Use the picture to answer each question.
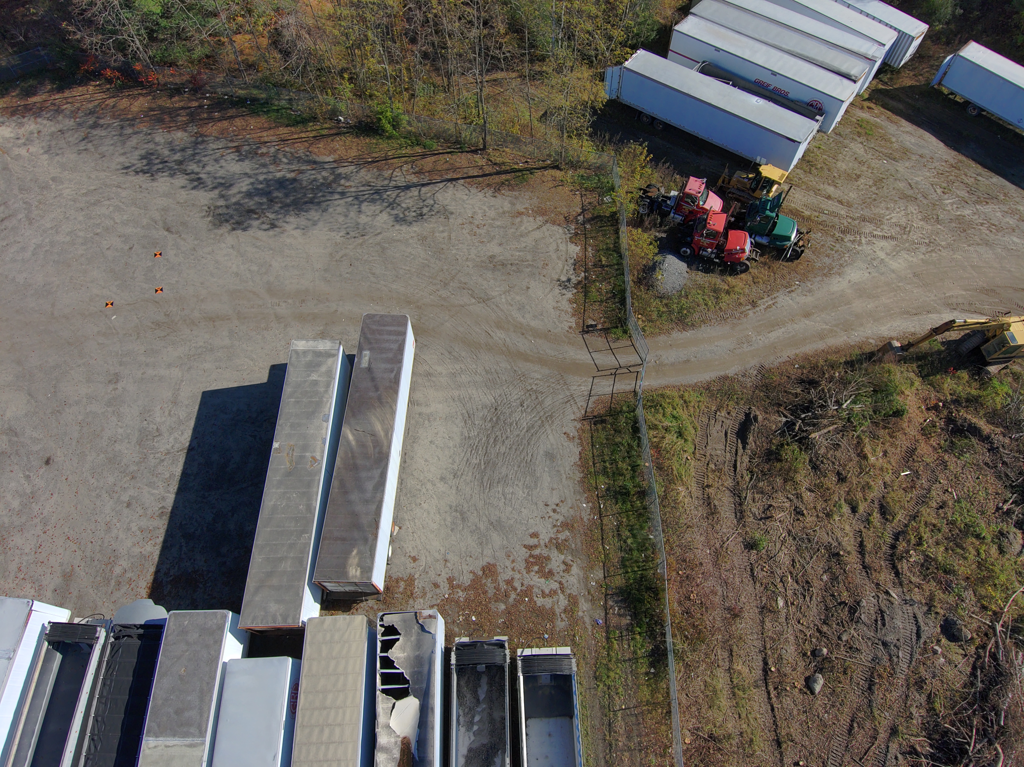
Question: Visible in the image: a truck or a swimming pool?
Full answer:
It is a truck that can be seen here.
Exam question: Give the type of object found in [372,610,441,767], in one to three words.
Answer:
trailer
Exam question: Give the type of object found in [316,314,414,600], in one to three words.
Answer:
trailer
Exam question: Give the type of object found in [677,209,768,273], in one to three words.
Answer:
truck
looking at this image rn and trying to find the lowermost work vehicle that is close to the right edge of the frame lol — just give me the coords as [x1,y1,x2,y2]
[881,317,1024,382]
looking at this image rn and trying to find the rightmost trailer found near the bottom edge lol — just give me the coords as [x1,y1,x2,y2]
[517,642,582,767]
